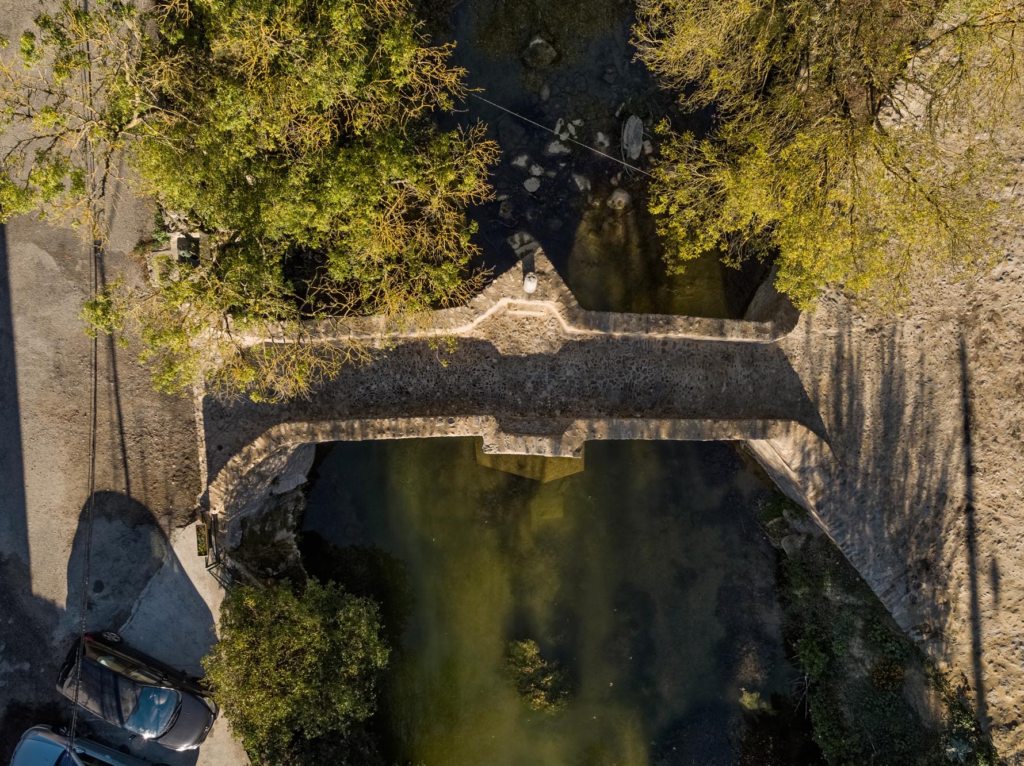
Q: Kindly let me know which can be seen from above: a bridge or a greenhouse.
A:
bridge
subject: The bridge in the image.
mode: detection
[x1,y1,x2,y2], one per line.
[195,231,843,520]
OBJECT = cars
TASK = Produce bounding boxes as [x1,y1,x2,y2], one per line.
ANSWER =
[0,719,160,766]
[51,628,221,753]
